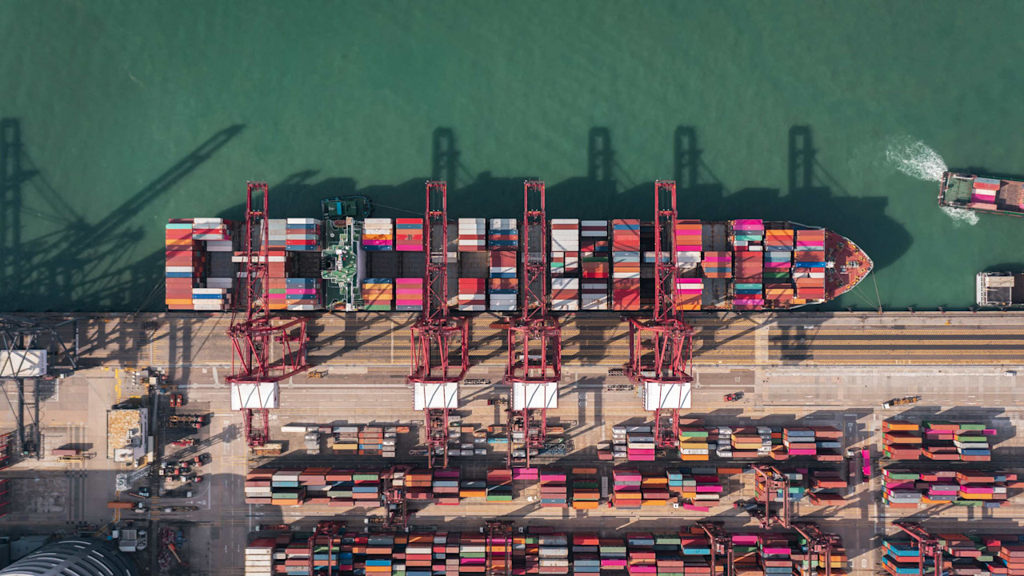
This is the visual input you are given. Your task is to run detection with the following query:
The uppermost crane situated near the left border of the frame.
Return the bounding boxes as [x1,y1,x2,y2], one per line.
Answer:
[0,297,109,449]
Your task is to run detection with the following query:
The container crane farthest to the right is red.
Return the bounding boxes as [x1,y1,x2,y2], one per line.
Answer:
[894,520,942,576]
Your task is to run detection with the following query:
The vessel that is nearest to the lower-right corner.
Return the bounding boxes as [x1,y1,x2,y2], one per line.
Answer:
[976,272,1024,308]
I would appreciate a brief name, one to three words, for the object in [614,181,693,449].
container crane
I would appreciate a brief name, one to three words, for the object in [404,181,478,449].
container crane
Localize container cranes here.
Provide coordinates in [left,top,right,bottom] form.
[614,181,693,449]
[790,520,832,576]
[894,520,942,576]
[307,520,343,576]
[404,181,478,449]
[0,297,109,449]
[749,462,790,534]
[382,461,414,534]
[698,520,735,576]
[499,181,564,449]
[223,181,321,449]
[506,405,532,469]
[486,520,513,576]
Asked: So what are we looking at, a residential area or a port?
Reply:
port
